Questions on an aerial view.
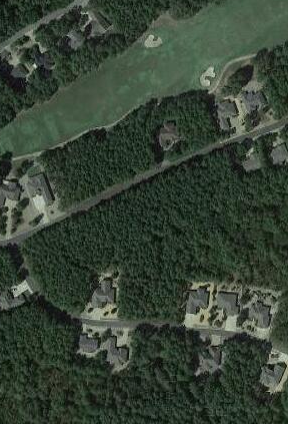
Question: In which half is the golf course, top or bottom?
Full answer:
It is in the top half that the golf course appears.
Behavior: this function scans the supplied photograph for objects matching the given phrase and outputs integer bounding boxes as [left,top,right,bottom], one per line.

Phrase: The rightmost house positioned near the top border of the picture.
[84,14,107,39]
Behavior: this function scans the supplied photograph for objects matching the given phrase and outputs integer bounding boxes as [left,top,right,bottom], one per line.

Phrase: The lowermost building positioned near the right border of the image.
[259,362,285,386]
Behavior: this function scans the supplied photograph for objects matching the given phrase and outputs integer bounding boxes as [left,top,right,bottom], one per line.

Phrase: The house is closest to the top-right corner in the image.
[240,87,266,111]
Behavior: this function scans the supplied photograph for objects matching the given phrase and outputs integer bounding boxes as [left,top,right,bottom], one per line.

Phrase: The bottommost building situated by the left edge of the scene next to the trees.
[0,291,26,312]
